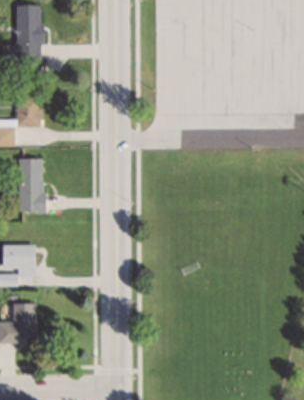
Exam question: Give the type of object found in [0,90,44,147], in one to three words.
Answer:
house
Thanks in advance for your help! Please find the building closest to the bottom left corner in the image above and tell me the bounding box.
[0,304,36,355]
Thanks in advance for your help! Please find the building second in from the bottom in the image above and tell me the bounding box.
[0,244,36,288]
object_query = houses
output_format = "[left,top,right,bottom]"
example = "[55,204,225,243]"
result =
[0,244,36,288]
[14,5,44,61]
[18,159,46,214]
[0,304,36,355]
[0,90,44,147]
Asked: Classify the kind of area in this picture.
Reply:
sports ground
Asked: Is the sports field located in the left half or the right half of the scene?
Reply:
right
